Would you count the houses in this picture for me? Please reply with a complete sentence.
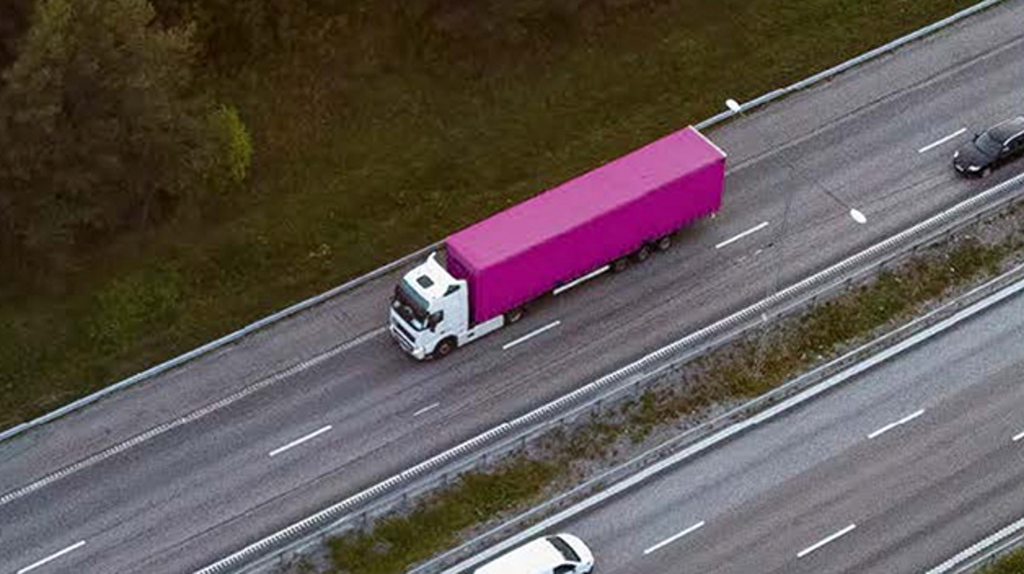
There are no houses in this view.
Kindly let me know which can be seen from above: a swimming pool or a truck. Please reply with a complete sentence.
This aerial view contains a truck.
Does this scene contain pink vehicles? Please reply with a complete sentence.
Yes, there's a pink vehicle down there.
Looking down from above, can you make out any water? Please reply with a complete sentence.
No, the picture contains no water.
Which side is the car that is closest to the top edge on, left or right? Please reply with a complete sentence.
The car that is closest to the top edge is on the right side of the image.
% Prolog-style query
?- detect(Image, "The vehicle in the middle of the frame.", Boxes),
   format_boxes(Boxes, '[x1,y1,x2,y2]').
[387,128,728,356]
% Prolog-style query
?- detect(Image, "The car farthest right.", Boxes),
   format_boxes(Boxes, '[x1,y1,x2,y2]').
[948,115,1024,182]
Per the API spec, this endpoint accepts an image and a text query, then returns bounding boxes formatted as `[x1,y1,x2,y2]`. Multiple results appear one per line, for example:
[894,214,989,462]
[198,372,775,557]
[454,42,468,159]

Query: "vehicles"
[948,115,1024,182]
[387,128,728,356]
[478,536,592,574]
